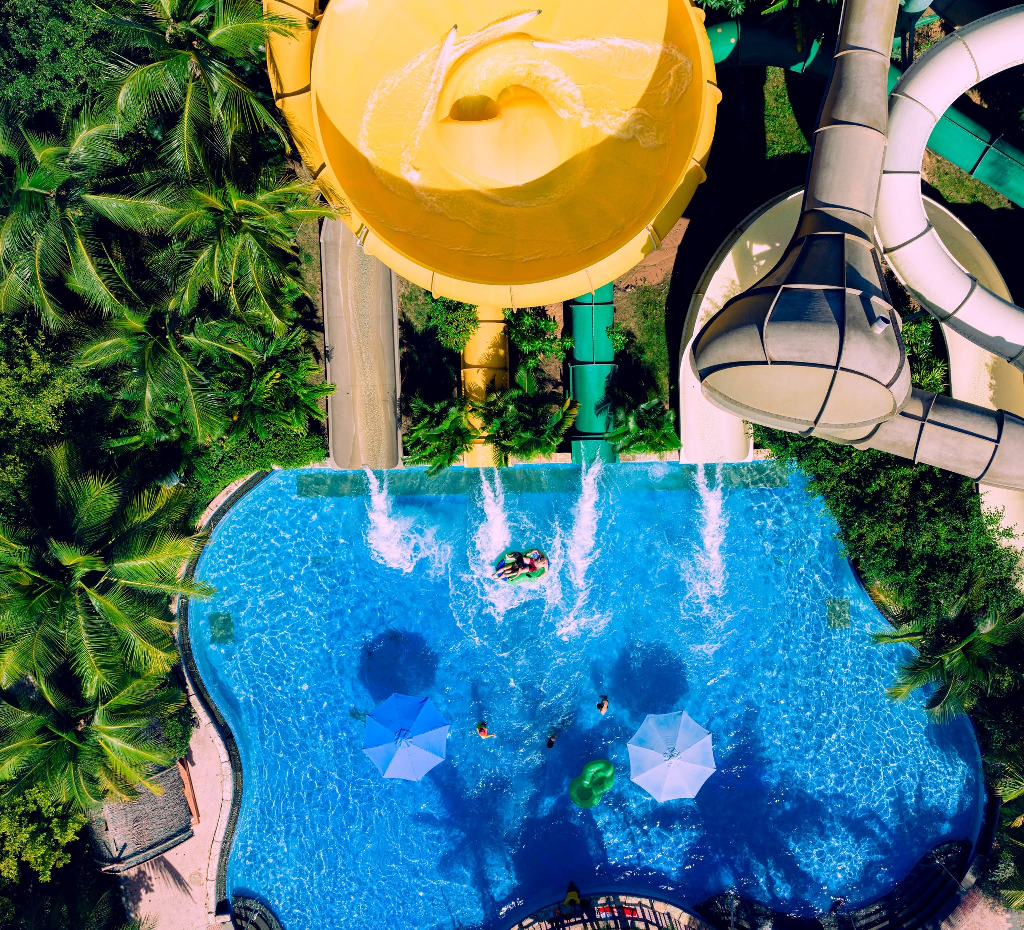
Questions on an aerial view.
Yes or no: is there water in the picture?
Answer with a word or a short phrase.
Yes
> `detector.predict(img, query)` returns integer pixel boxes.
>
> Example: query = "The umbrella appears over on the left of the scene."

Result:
[364,692,451,781]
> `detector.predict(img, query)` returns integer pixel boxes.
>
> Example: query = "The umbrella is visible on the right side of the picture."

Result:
[625,710,717,804]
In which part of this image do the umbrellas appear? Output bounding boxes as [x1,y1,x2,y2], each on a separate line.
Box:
[625,710,717,804]
[364,692,451,781]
